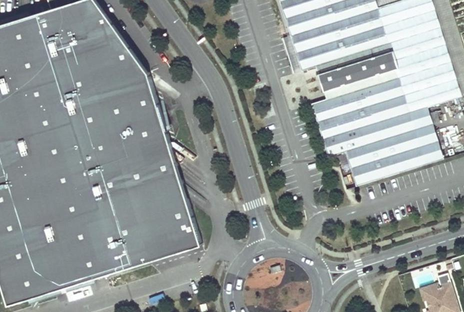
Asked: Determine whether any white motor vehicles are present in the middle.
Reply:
Yes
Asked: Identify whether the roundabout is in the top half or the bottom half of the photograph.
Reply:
bottom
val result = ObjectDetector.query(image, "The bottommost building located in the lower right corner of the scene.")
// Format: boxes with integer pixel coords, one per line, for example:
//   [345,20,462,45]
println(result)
[420,274,462,312]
